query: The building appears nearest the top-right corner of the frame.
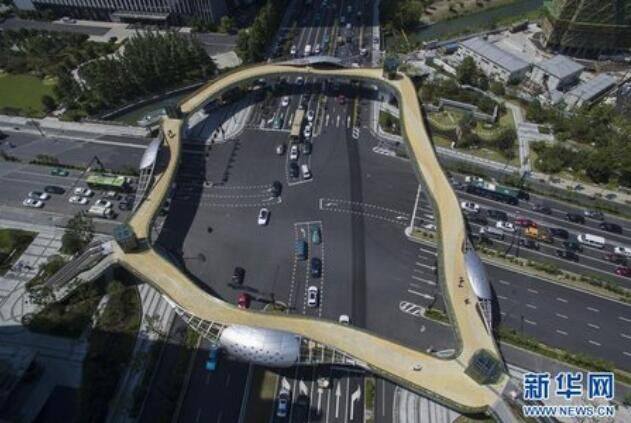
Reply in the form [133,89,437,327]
[545,0,631,54]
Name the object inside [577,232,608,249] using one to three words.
vehicle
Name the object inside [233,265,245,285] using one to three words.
vehicle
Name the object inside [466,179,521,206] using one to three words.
bus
